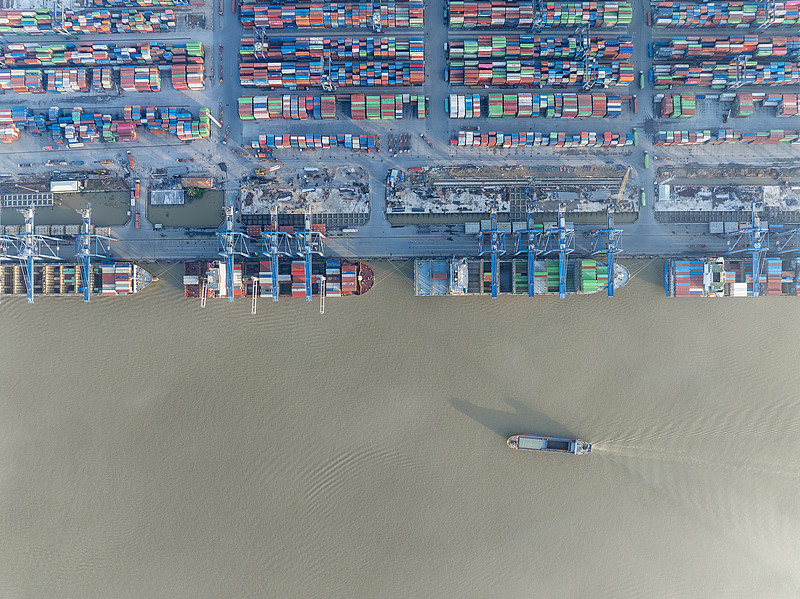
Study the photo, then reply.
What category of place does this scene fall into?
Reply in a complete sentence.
It's a port.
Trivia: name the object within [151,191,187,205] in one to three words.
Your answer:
shed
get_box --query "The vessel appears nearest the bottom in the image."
[507,435,593,457]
